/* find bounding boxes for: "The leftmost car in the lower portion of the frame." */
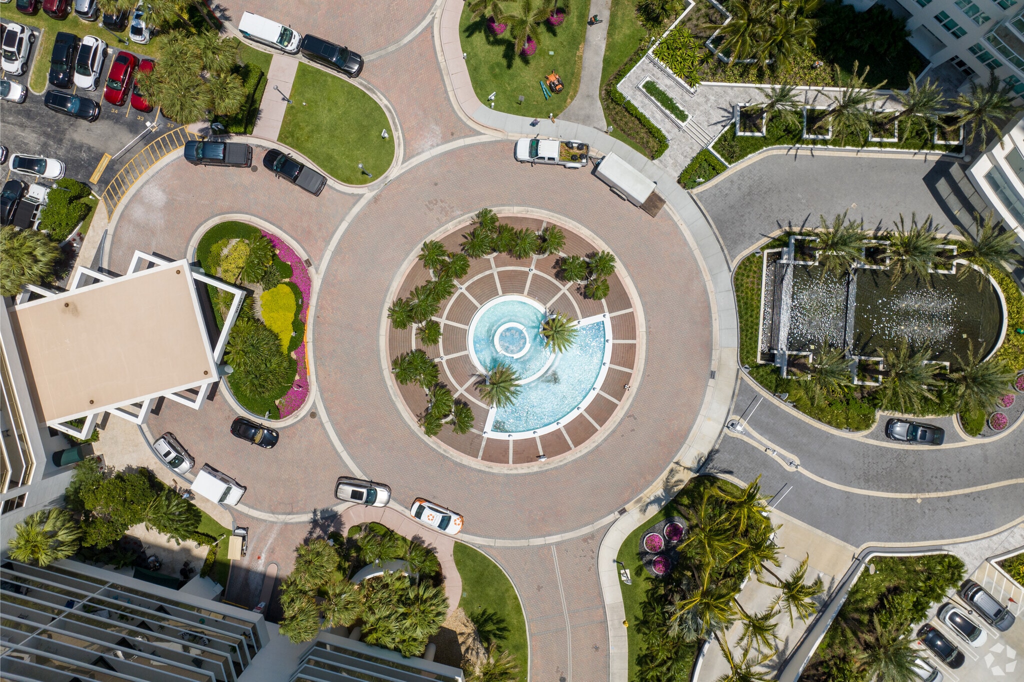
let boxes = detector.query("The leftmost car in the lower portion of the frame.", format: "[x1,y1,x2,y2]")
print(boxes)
[152,429,199,479]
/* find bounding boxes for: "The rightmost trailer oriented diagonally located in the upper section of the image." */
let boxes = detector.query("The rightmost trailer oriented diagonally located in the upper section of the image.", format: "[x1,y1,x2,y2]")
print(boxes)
[590,152,664,219]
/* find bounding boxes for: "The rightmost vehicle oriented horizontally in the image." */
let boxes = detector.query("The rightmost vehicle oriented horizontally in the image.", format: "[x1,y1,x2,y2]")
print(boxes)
[882,417,945,445]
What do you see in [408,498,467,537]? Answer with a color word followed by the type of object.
white car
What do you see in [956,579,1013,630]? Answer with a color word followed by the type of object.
gray car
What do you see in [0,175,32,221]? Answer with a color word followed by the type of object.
black car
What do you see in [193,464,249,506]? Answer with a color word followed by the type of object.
white car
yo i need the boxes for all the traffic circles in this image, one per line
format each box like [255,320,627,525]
[307,131,718,551]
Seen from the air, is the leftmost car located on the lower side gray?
Yes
